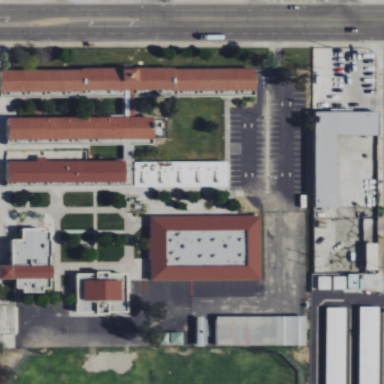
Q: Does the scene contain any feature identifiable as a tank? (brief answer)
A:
No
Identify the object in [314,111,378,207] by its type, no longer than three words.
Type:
building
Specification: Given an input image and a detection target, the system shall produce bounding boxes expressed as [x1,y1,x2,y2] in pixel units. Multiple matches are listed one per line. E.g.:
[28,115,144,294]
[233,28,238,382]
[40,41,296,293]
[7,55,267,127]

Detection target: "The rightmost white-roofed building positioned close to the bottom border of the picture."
[358,306,380,384]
